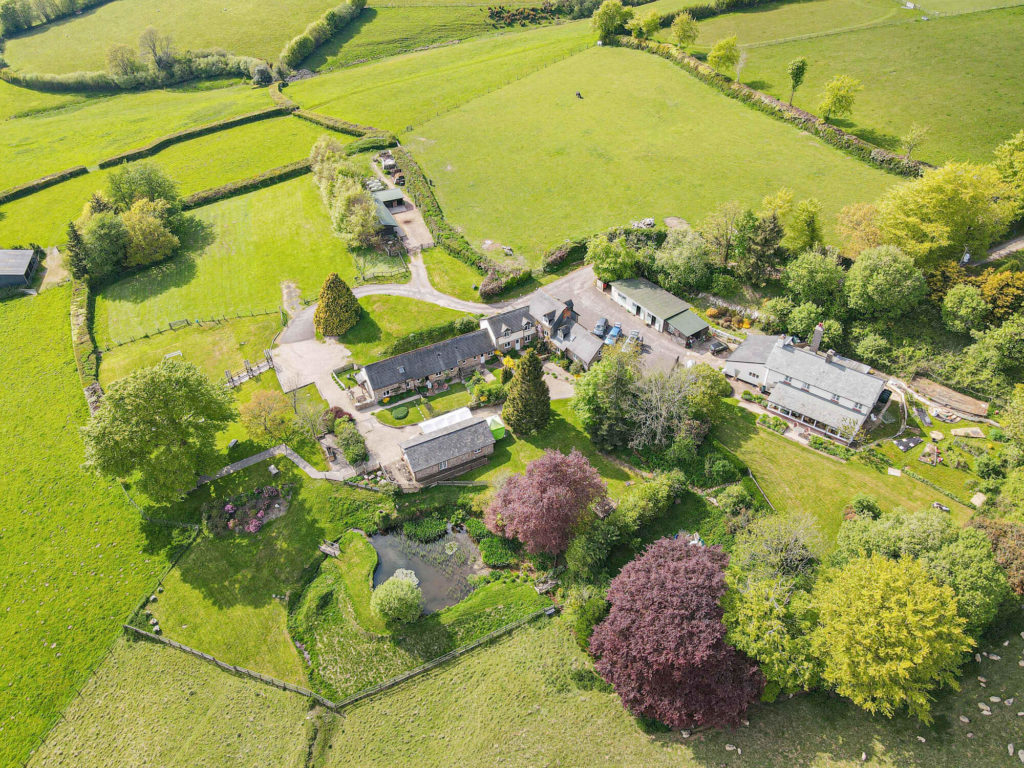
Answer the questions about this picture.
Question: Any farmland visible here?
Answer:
Yes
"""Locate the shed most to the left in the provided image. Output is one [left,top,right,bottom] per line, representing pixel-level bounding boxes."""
[0,251,53,291]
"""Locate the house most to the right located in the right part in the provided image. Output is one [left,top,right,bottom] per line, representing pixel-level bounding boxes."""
[726,329,885,444]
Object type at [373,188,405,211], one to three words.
shed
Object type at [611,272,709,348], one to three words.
shed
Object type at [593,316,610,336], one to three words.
car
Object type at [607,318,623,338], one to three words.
car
